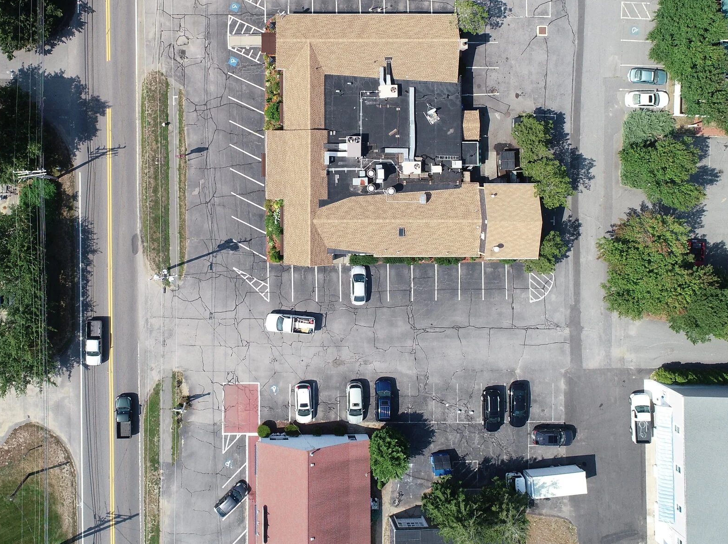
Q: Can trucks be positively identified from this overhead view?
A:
Yes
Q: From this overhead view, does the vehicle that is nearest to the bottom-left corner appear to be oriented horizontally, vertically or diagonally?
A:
vertically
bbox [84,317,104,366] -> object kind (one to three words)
vehicle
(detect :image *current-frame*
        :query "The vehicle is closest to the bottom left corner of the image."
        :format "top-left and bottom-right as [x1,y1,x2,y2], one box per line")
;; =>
[113,393,133,439]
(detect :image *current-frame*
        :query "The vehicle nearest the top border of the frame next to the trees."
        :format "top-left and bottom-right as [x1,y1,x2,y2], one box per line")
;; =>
[625,67,667,86]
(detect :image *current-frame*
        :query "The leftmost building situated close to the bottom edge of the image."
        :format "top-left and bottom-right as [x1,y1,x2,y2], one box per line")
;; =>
[255,438,369,544]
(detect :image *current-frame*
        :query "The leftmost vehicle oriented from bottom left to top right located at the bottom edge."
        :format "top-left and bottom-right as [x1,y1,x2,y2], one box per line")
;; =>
[212,477,248,518]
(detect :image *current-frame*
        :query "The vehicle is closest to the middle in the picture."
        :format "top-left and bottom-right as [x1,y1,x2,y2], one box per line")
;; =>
[349,264,368,305]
